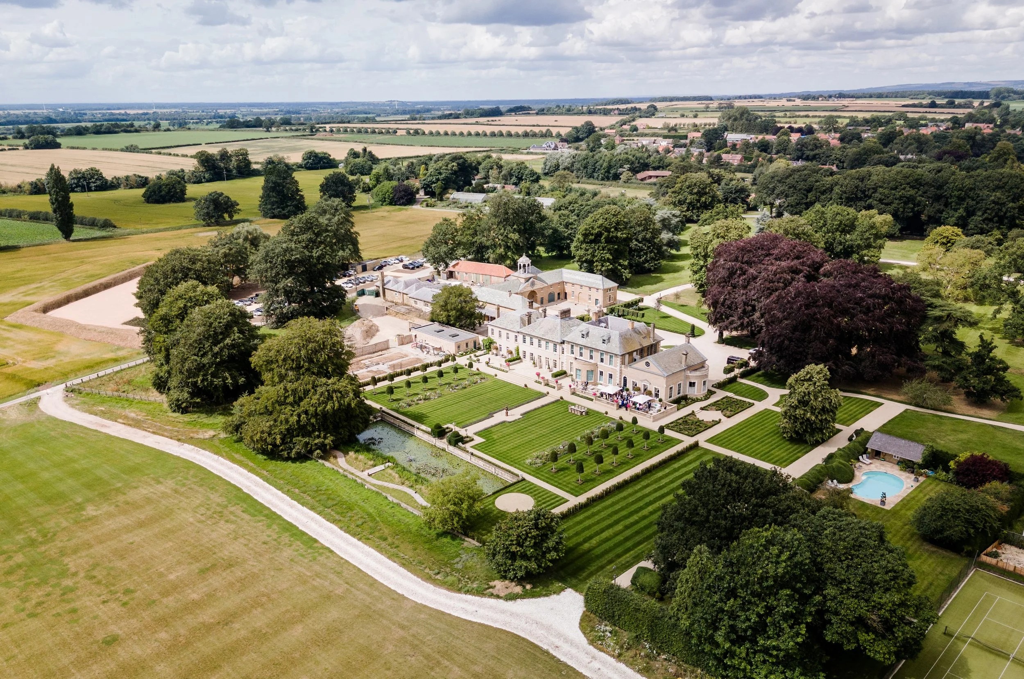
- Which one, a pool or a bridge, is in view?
pool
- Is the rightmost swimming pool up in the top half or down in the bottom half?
bottom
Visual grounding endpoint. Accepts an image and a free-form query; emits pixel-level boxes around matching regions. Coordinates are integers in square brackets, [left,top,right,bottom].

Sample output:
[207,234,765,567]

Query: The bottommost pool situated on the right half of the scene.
[850,470,906,500]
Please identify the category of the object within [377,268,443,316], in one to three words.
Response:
shed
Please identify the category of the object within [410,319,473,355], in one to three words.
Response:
shed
